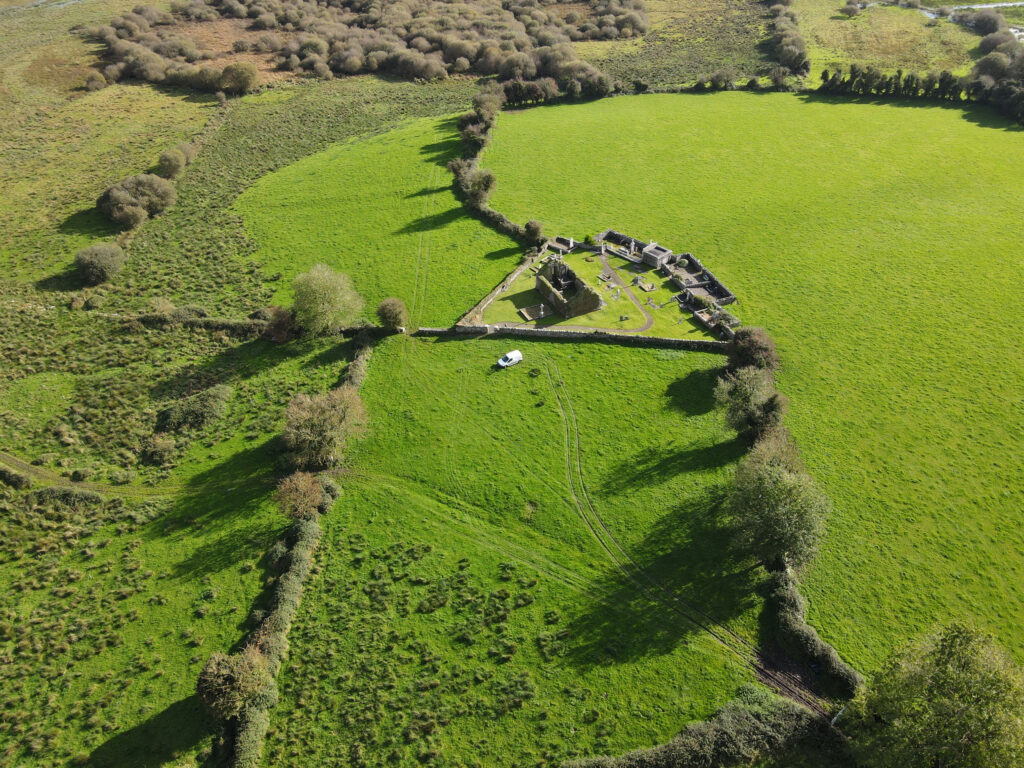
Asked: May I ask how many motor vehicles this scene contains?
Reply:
1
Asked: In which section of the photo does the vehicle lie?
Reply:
center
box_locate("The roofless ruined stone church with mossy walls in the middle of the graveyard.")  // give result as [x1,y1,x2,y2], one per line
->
[536,257,603,317]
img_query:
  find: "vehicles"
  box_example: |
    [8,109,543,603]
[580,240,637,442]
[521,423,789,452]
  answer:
[496,347,524,367]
